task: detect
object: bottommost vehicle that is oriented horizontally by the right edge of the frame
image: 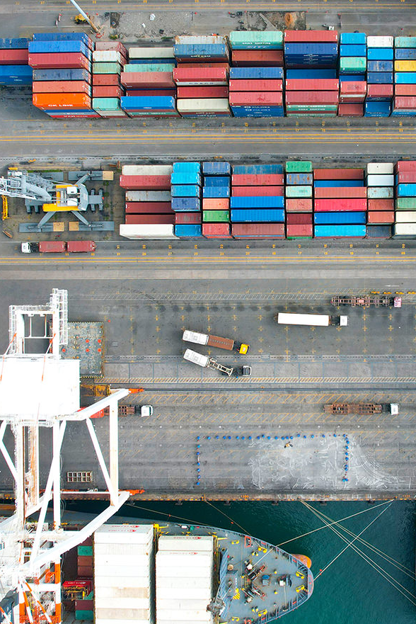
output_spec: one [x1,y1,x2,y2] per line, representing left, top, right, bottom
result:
[324,404,403,417]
